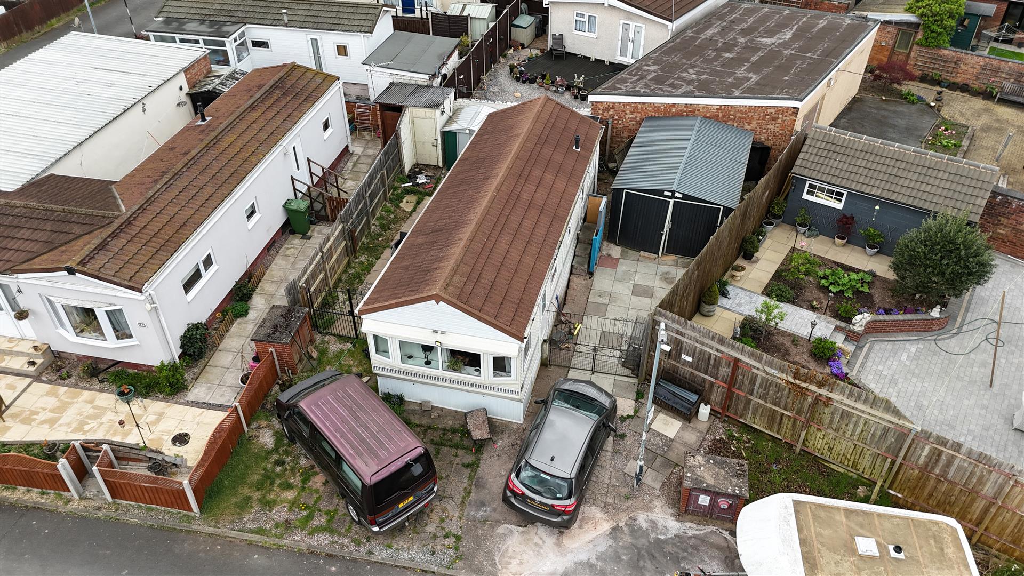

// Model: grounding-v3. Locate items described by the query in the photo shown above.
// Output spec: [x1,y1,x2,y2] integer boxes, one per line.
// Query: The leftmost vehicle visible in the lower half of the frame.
[500,385,615,532]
